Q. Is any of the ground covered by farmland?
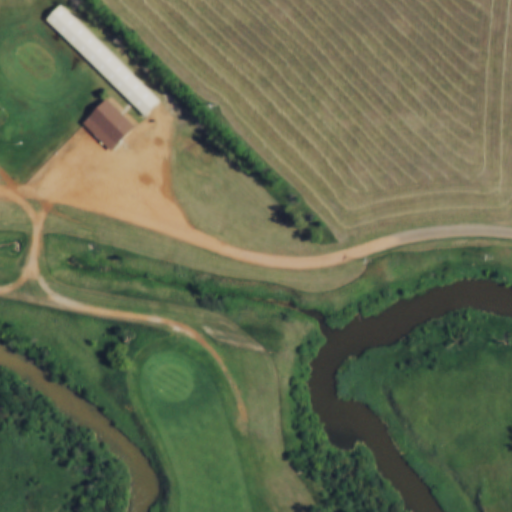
Yes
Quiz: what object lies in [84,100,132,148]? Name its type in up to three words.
barn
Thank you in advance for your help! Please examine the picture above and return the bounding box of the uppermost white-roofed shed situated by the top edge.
[46,4,160,116]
